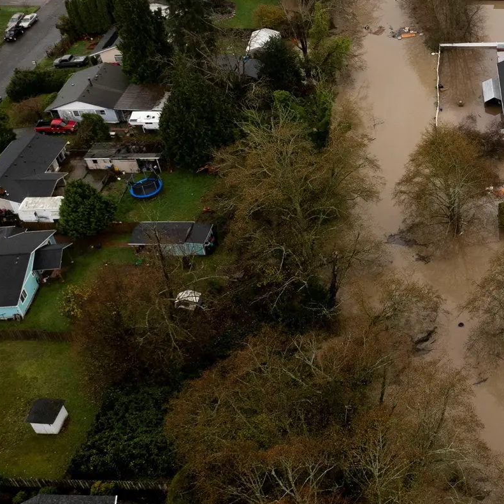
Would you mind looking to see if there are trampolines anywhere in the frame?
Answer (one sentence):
Yes, I can see a trampoline in this picture.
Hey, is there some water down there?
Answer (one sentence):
Yes, the picture does contain water.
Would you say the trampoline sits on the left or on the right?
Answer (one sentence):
You can find the trampoline on the left side of the picture.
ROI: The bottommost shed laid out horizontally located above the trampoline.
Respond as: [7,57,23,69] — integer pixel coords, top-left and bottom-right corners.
[84,142,159,170]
